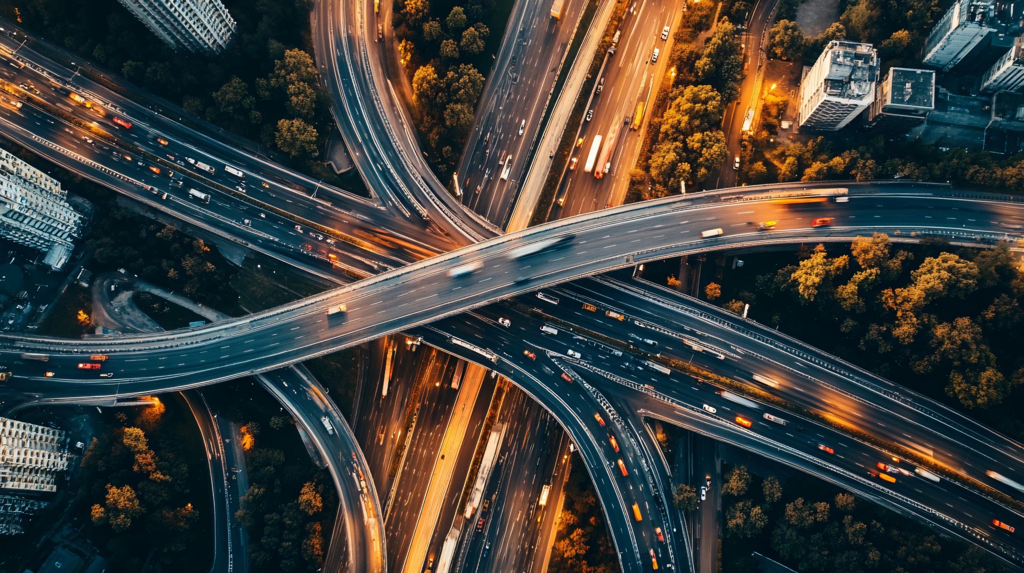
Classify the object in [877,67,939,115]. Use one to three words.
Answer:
building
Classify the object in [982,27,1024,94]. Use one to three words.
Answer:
building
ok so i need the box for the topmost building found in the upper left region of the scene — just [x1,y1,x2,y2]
[113,0,237,53]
